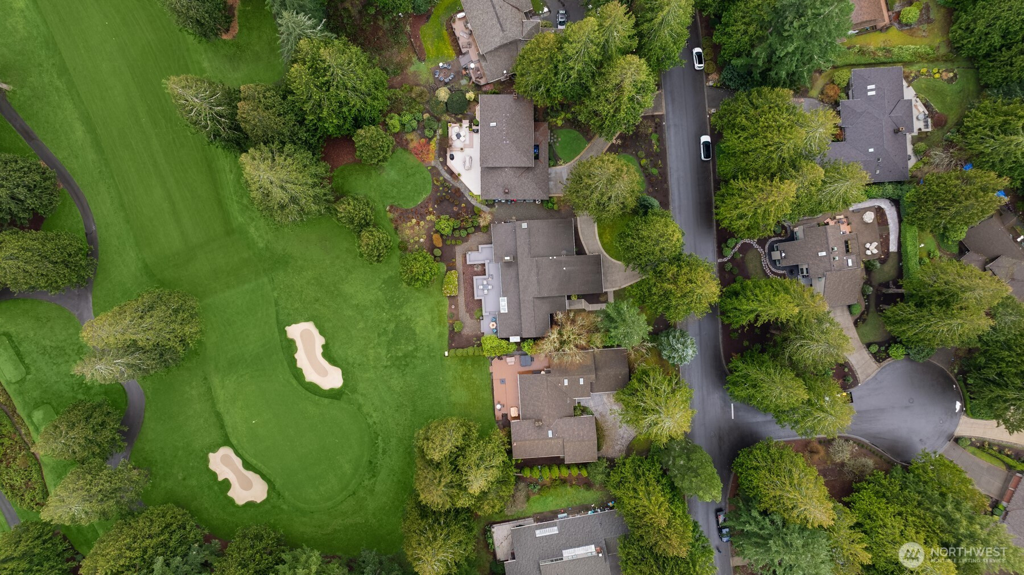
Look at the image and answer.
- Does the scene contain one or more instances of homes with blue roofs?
No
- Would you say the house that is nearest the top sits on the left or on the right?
right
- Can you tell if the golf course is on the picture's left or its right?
left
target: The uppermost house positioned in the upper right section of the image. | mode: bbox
[847,0,890,36]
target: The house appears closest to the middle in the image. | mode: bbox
[491,218,604,338]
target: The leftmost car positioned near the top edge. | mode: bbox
[556,6,568,34]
